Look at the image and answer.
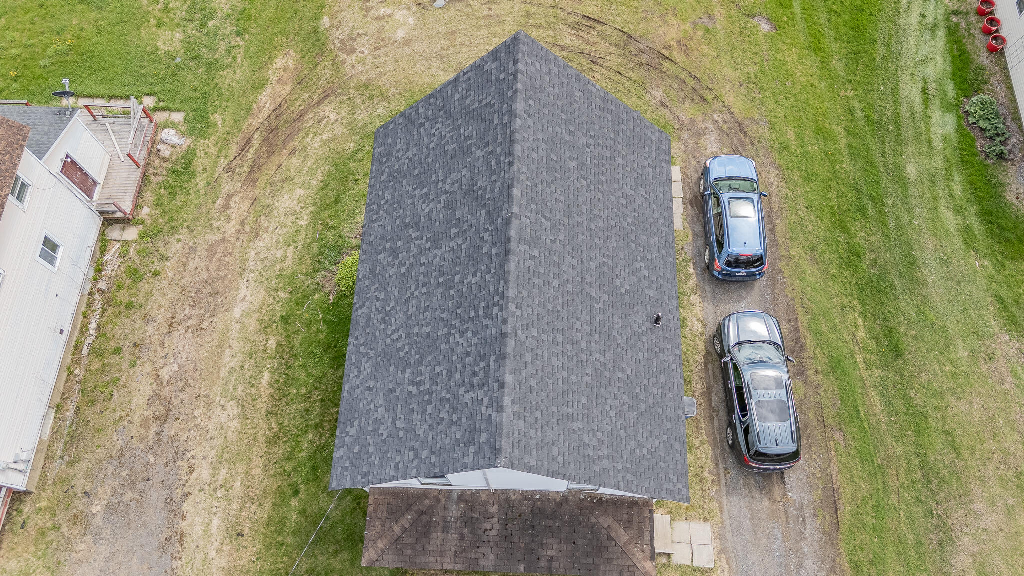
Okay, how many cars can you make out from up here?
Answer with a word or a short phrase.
2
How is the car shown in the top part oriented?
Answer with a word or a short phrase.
from top to bottom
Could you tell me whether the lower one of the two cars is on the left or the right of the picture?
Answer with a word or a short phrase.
right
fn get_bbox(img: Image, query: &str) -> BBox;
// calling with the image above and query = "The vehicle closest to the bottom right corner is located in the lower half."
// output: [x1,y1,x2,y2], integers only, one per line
[714,310,805,475]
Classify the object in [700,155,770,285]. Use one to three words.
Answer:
car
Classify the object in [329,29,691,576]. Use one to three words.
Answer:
house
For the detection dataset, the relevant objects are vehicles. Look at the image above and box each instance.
[700,155,770,285]
[714,310,805,475]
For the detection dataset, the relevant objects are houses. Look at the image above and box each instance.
[0,109,120,490]
[990,0,1024,136]
[329,29,691,576]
